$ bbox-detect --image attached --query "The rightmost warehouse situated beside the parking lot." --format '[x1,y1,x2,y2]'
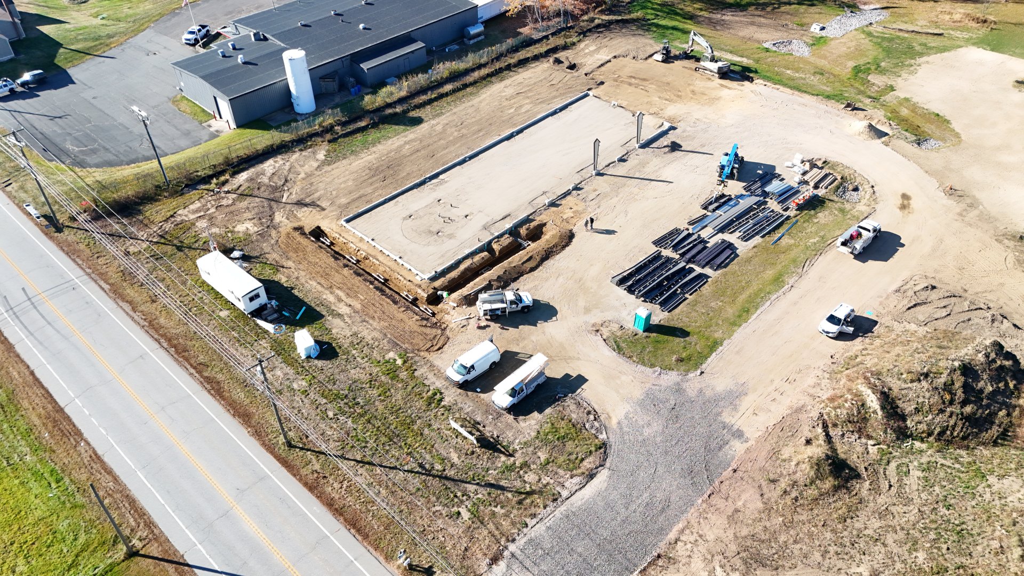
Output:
[162,0,482,128]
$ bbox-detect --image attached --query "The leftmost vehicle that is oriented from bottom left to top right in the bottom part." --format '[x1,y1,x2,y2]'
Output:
[445,332,504,388]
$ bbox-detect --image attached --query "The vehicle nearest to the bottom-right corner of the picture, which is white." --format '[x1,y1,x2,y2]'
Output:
[821,299,859,337]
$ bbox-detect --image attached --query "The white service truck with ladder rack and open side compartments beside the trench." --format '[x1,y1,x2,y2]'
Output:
[476,287,536,320]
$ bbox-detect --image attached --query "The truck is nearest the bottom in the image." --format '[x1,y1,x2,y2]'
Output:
[490,361,547,413]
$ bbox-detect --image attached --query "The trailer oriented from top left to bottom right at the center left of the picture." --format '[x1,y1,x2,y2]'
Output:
[196,251,269,317]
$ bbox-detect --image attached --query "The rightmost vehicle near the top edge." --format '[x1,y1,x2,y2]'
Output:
[687,25,729,78]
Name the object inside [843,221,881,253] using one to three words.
truck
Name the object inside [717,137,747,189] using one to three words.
work vehicle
